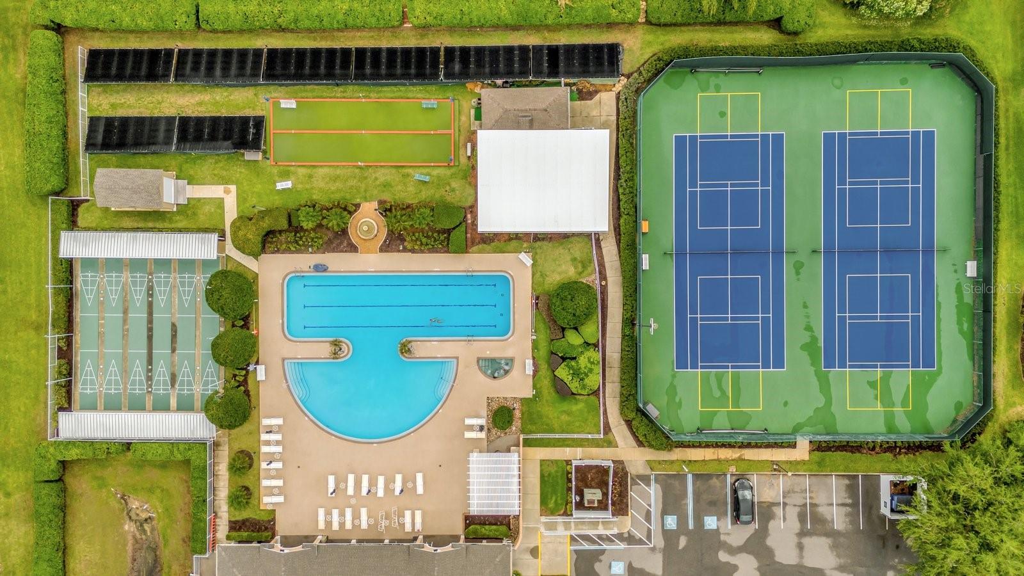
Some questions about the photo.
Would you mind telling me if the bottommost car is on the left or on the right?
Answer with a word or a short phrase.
right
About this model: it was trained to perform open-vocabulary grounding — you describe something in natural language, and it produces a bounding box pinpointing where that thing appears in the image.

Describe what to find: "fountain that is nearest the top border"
[356,218,378,239]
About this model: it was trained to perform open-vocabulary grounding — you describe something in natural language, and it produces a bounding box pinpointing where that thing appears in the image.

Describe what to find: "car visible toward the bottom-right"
[734,480,757,527]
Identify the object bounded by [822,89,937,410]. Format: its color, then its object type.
blue tennis court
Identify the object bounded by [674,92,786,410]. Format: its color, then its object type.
blue tennis court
